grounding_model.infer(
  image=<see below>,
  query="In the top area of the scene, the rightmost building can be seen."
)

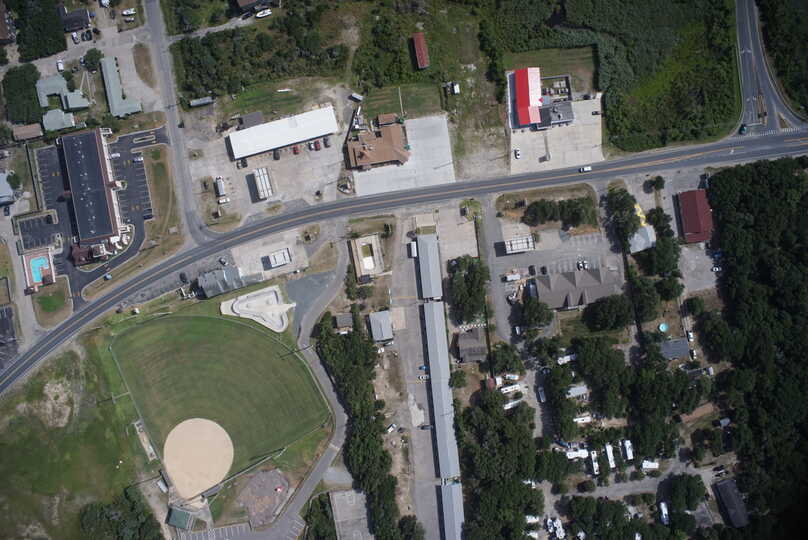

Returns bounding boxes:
[679,189,713,242]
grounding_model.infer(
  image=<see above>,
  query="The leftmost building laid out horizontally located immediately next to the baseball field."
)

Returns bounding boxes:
[200,265,264,298]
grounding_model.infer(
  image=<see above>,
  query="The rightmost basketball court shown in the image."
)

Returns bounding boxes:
[331,490,372,540]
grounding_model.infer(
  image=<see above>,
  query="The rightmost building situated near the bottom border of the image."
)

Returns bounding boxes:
[716,479,750,528]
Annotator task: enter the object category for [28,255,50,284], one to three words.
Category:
swimming pool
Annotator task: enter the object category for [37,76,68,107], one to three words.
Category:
house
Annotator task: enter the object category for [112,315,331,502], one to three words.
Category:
baseball field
